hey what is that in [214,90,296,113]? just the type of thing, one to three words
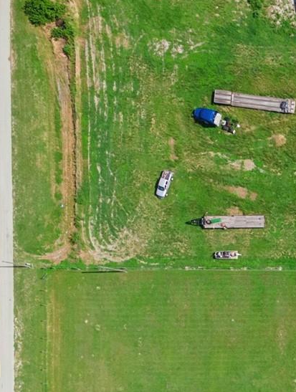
trailer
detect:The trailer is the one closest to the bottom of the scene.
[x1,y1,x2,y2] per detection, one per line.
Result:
[188,216,265,228]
